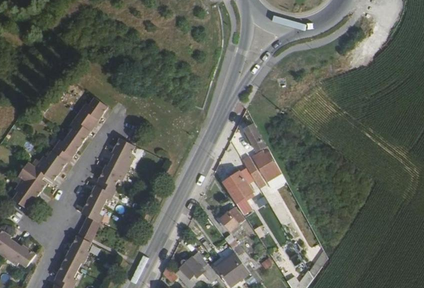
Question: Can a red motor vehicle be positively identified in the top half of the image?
No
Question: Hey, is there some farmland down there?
Yes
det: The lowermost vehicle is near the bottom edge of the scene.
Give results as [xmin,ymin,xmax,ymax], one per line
[132,256,150,284]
